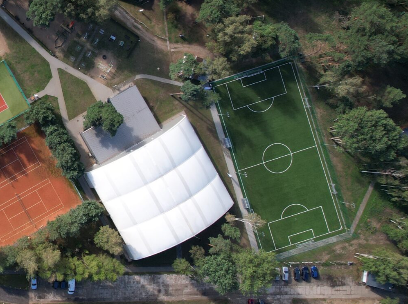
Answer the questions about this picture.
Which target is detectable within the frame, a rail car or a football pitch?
football pitch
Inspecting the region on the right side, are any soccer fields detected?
Yes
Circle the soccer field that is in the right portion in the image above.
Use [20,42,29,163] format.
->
[210,60,356,255]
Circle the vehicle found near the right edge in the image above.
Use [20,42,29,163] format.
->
[356,268,392,292]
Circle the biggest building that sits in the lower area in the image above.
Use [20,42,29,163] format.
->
[85,115,233,259]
